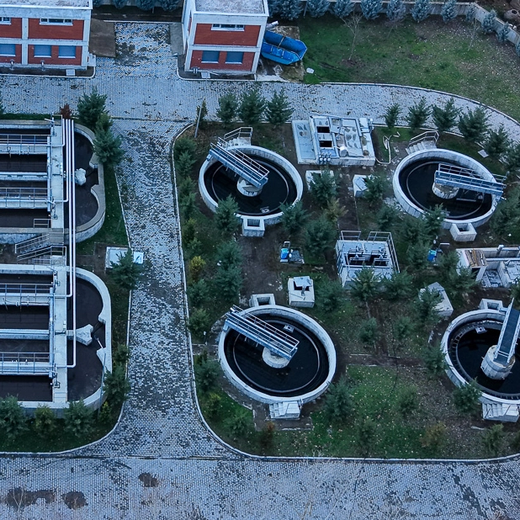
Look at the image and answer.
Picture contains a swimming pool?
No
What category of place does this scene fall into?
industrial area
